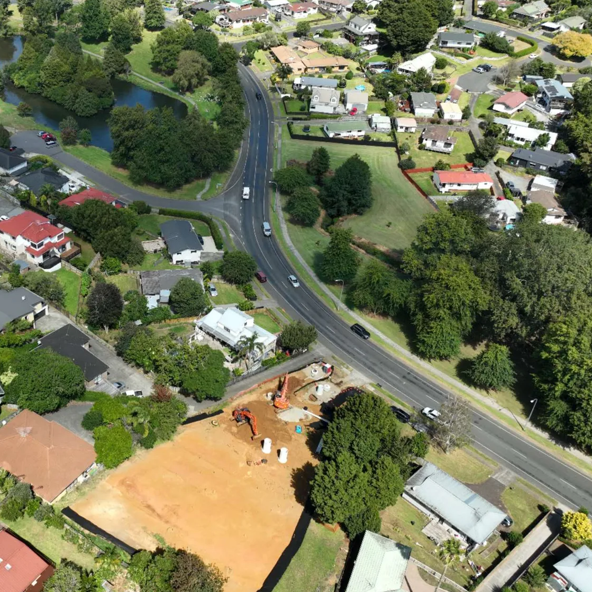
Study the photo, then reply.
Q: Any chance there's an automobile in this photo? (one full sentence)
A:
Yes, an automobile can be made out from above.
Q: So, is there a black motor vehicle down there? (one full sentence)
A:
Yes, looking at the shot, I can spot a black motor vehicle.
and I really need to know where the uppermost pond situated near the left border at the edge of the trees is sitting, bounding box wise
[0,34,187,152]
